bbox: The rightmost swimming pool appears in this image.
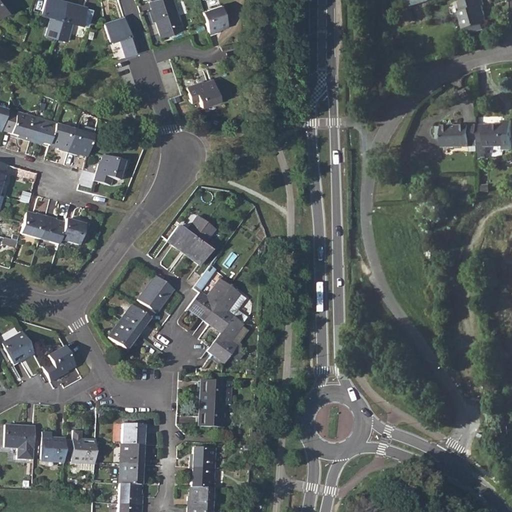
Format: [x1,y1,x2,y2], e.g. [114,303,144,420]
[222,250,238,276]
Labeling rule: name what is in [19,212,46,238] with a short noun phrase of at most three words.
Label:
house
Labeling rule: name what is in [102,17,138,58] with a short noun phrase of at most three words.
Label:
house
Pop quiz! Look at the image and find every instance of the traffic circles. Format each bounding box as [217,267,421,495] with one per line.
[301,375,424,512]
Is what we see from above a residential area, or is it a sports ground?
residential area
